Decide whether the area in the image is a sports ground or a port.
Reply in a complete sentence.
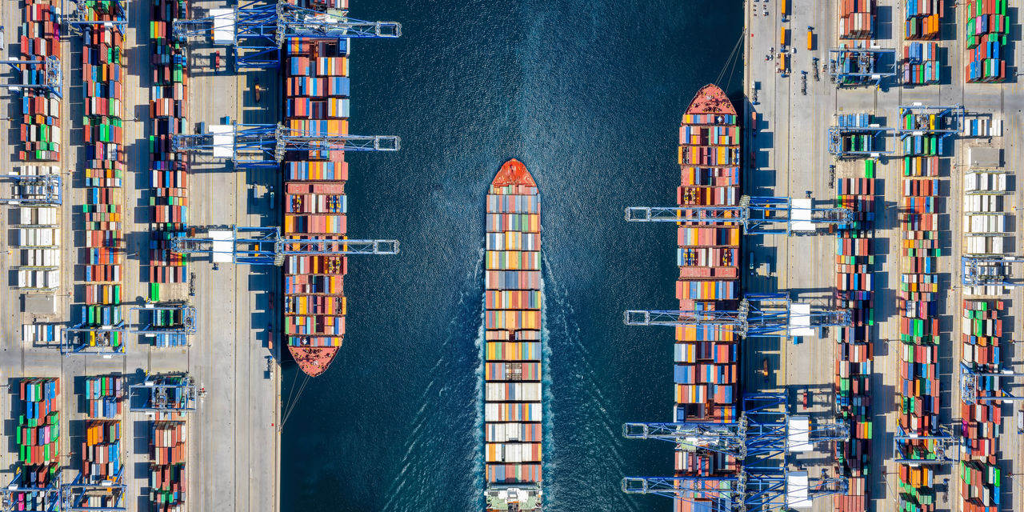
The area seen from above is a port.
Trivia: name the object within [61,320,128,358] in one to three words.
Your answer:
crane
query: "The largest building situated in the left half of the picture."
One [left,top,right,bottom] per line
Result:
[26,294,59,313]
